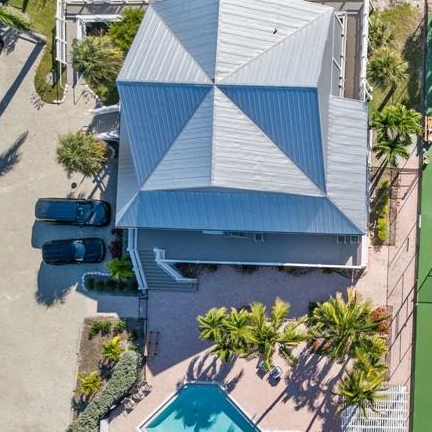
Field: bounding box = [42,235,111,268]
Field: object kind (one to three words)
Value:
car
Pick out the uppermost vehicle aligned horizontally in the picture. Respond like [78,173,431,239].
[33,195,115,230]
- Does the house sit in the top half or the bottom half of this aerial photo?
top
